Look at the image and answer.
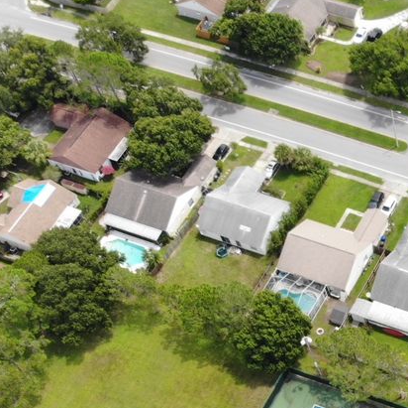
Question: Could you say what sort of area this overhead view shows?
residential area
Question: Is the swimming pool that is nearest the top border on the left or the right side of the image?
left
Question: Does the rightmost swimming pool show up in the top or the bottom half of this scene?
bottom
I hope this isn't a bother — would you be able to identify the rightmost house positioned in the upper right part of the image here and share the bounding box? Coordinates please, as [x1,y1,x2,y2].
[267,0,368,45]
